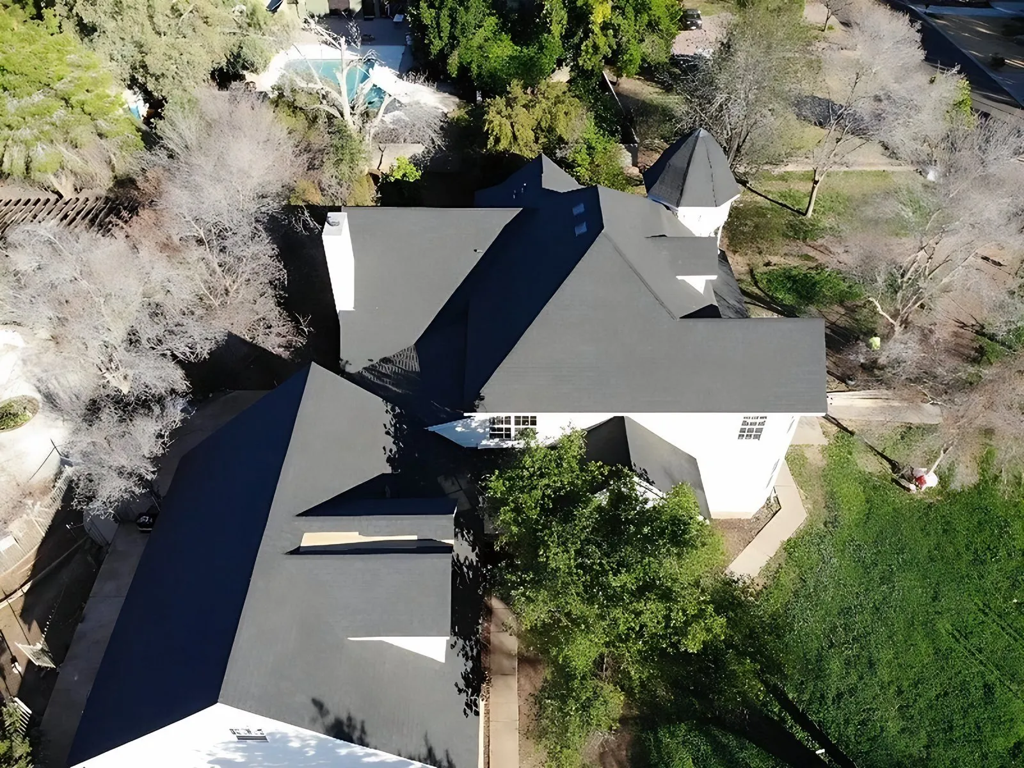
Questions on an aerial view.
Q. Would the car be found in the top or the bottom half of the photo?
top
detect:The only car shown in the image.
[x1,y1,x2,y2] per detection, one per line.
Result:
[676,0,703,25]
